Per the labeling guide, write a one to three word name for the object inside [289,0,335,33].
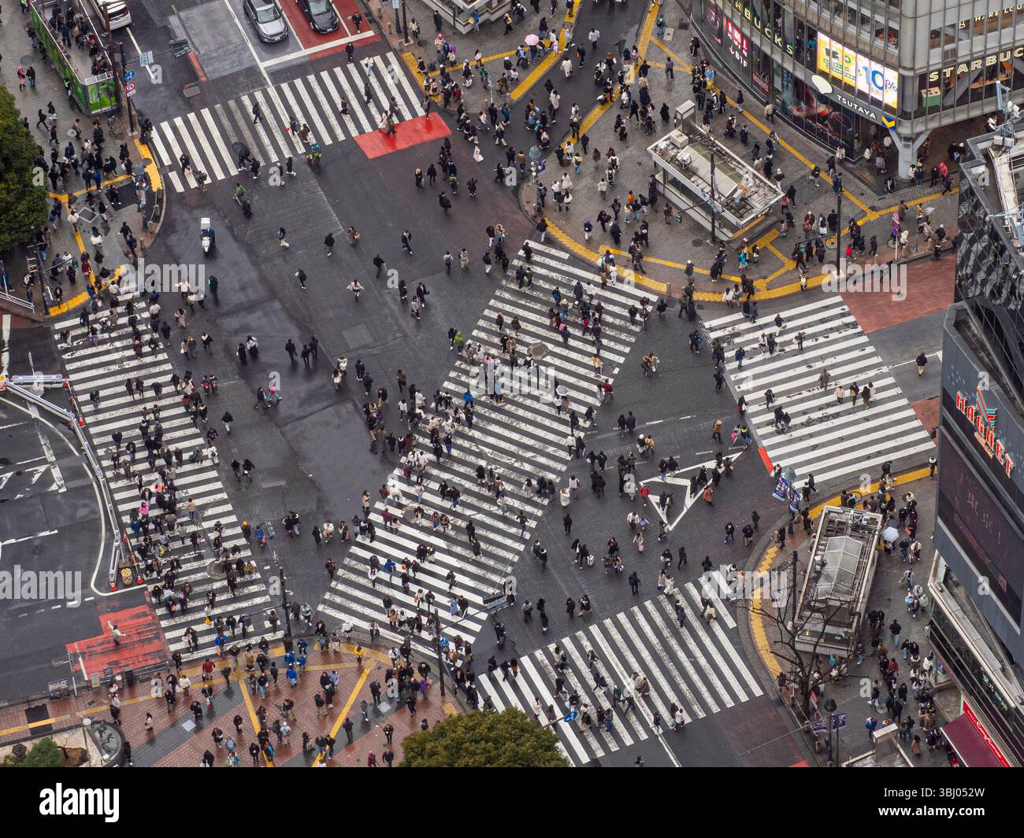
car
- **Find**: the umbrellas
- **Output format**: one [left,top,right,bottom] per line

[64,128,79,138]
[553,385,570,397]
[521,33,540,47]
[882,515,900,528]
[880,527,901,549]
[230,141,249,163]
